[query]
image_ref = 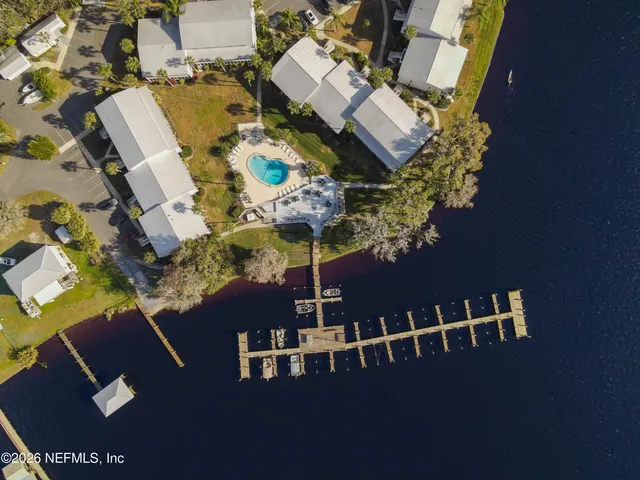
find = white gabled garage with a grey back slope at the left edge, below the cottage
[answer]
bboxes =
[0,44,36,82]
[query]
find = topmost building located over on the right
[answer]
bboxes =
[386,0,472,96]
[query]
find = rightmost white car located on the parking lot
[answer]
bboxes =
[305,6,319,26]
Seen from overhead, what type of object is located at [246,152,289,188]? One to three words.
swimming pool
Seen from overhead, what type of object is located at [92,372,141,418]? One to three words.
building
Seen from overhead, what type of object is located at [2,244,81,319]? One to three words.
house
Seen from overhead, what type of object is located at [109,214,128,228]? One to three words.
vehicle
